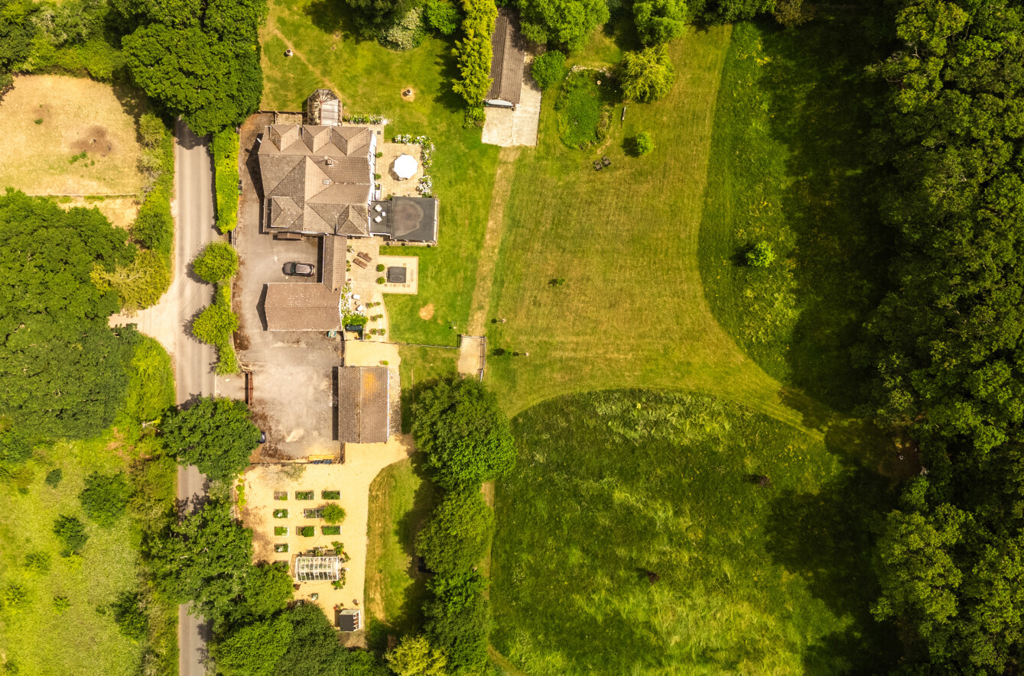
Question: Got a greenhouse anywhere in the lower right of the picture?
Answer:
No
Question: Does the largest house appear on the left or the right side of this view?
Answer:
left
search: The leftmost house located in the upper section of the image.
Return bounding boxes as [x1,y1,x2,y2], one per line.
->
[256,88,438,331]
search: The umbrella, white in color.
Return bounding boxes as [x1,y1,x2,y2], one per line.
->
[395,155,417,178]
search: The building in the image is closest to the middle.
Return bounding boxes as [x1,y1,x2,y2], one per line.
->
[339,365,390,444]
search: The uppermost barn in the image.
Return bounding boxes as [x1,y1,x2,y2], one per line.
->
[488,1,525,109]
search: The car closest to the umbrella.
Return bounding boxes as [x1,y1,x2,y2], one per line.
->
[283,259,317,276]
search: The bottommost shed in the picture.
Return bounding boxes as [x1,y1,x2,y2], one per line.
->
[339,606,362,632]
